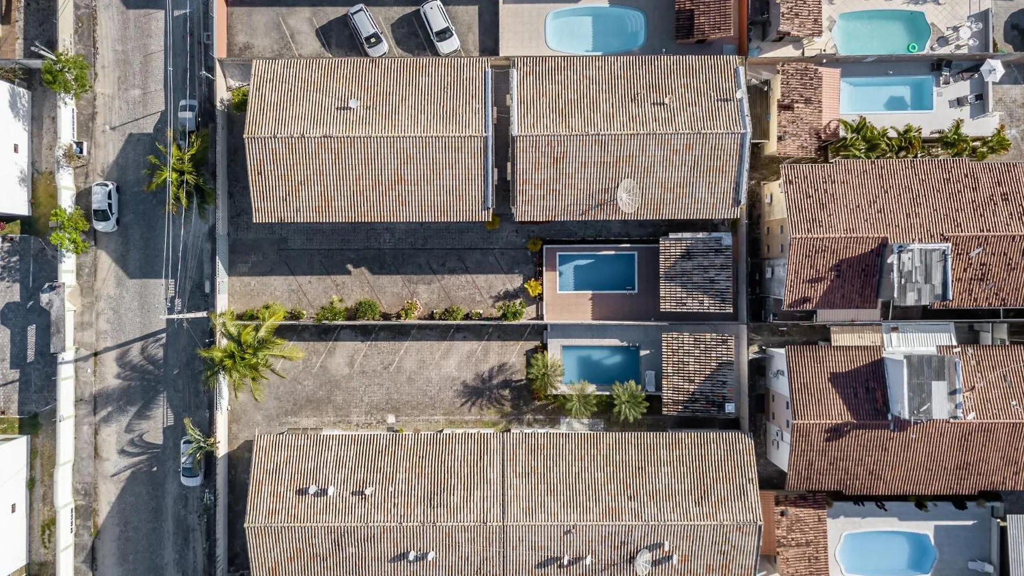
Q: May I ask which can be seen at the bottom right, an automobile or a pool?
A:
pool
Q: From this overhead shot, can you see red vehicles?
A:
No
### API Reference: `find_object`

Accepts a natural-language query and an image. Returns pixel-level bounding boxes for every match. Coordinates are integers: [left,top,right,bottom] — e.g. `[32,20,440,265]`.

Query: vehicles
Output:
[177,101,206,155]
[89,182,119,232]
[179,435,210,485]
[422,0,461,55]
[351,0,389,55]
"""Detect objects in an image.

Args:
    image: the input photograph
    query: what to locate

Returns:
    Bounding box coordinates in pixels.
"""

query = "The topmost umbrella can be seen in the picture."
[969,57,1004,84]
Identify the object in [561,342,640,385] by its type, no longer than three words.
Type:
swimming pool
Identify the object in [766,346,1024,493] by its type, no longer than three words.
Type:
house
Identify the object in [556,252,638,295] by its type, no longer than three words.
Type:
swimming pool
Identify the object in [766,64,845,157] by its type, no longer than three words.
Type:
building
